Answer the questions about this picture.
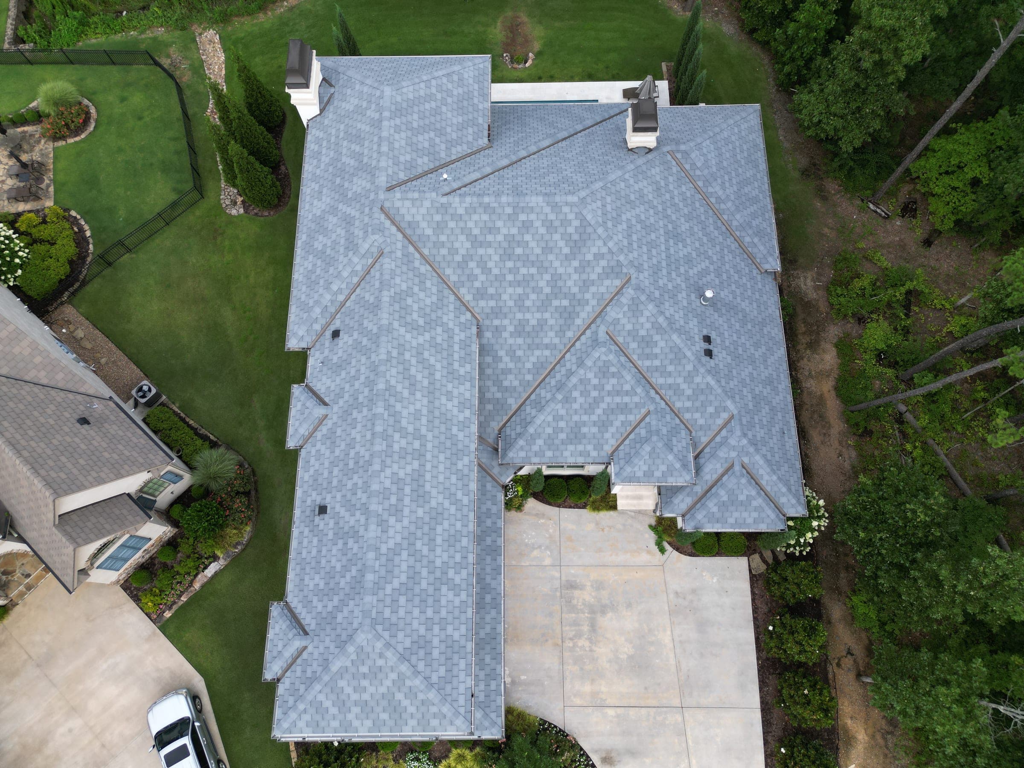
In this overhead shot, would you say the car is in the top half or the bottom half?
bottom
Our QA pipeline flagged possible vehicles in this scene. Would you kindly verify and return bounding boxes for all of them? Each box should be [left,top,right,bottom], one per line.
[149,686,227,768]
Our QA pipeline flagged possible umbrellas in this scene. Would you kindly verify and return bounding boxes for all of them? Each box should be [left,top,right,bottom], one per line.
[643,74,659,98]
[1,147,46,186]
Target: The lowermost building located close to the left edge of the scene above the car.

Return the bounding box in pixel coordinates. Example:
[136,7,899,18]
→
[0,274,190,597]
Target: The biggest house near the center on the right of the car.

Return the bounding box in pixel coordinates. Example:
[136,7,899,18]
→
[261,39,808,742]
